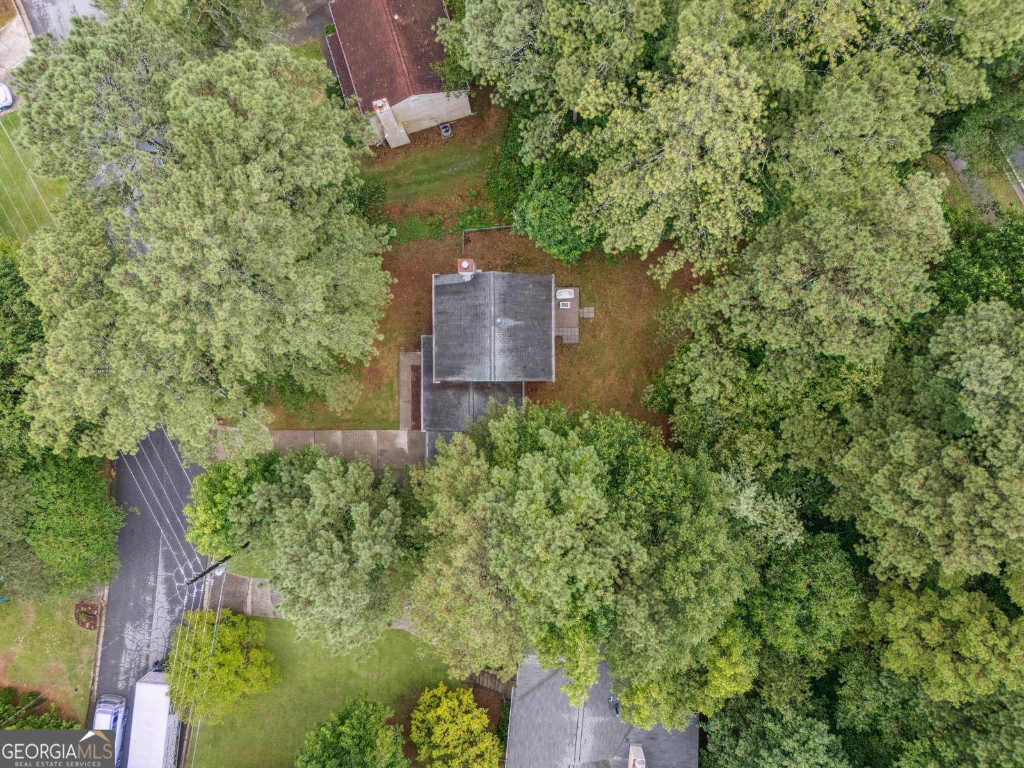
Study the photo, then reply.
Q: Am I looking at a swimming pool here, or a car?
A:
car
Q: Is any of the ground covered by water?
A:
No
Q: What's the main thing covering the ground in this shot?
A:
trees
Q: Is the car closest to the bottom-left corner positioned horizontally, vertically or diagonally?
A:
vertically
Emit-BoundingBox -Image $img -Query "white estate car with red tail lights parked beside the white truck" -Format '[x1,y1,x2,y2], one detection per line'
[89,696,128,764]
